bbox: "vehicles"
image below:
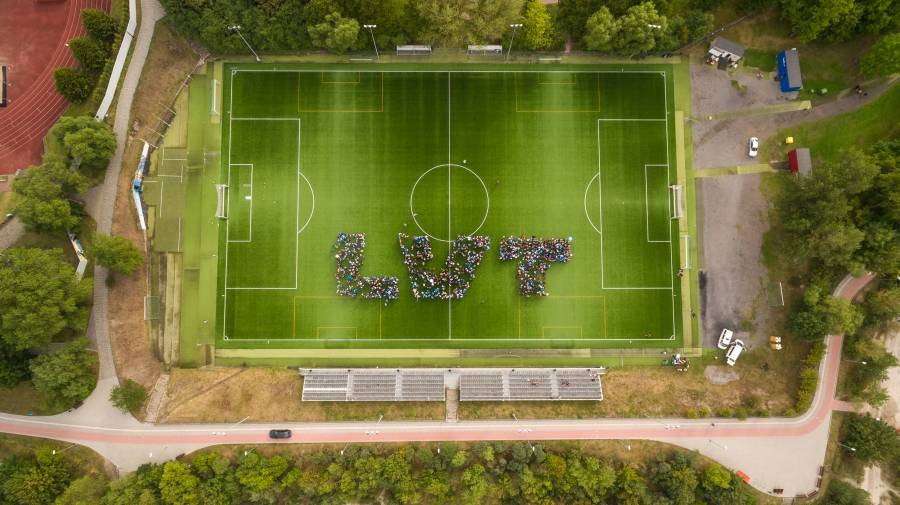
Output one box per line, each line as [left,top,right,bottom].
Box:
[727,341,748,367]
[269,429,291,440]
[750,137,759,157]
[718,328,736,350]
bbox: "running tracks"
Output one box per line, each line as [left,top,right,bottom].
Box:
[0,0,108,176]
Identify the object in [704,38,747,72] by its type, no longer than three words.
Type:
house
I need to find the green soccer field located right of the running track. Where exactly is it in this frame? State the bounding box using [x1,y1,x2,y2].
[213,63,684,349]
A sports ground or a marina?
sports ground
